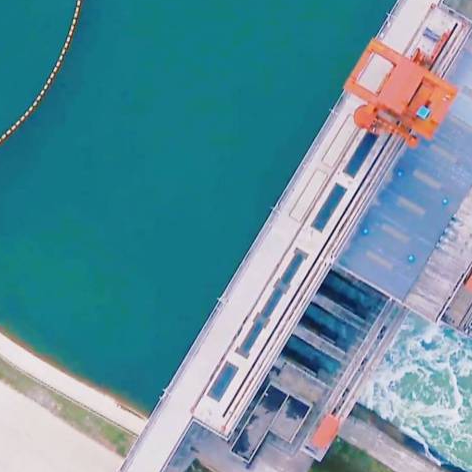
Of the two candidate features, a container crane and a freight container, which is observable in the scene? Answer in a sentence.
The image shows a container crane.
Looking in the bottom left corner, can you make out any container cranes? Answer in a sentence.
No, I can find no container crane in the bottom left corner.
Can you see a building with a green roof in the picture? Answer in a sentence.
No, there is no building with a green roof in the image.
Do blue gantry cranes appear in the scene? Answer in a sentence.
No, no blue gantry crane is visible in the view.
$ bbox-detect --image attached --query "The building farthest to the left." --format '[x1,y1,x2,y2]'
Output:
[231,383,290,462]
